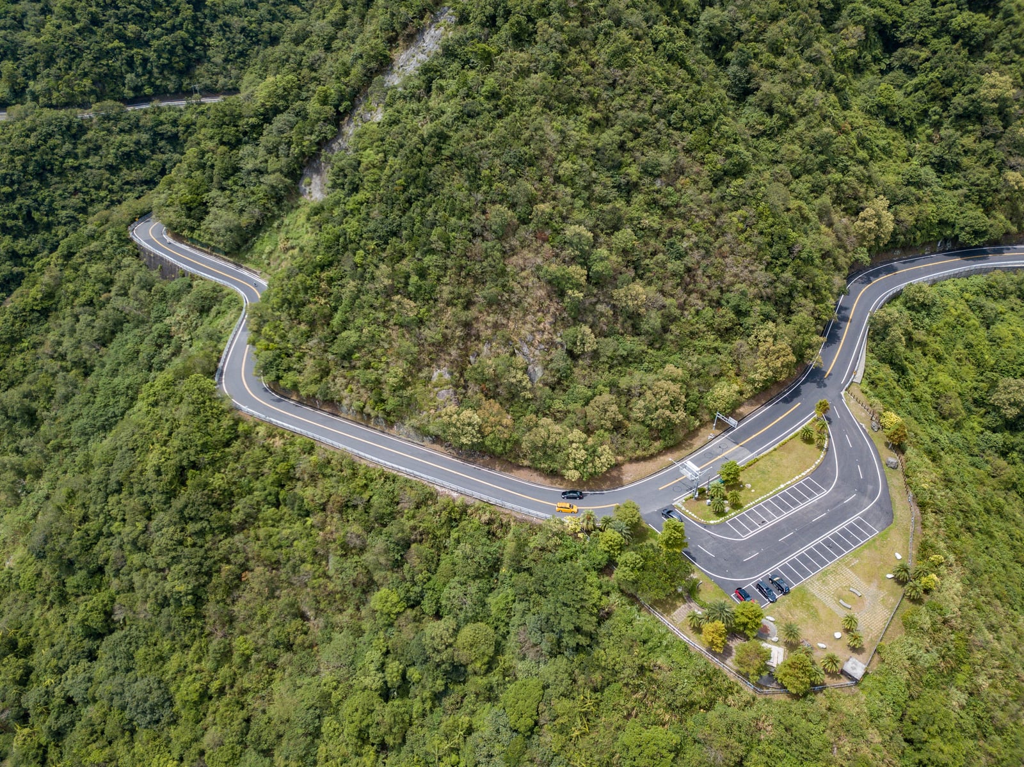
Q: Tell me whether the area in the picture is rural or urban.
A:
rural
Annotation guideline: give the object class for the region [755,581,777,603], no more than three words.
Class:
car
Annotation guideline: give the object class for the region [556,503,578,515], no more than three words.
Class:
vehicle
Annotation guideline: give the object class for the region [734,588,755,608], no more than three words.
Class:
car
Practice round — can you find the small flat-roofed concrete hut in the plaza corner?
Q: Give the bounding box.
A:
[840,657,866,685]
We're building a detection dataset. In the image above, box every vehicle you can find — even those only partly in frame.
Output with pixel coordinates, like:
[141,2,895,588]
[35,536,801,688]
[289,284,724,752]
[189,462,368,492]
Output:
[734,588,755,608]
[556,503,578,515]
[768,573,791,594]
[662,509,682,524]
[562,491,583,500]
[755,581,777,603]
